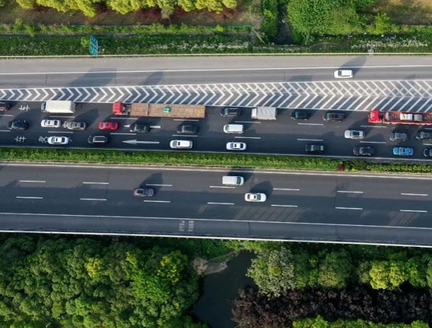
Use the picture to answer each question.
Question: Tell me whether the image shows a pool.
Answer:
No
